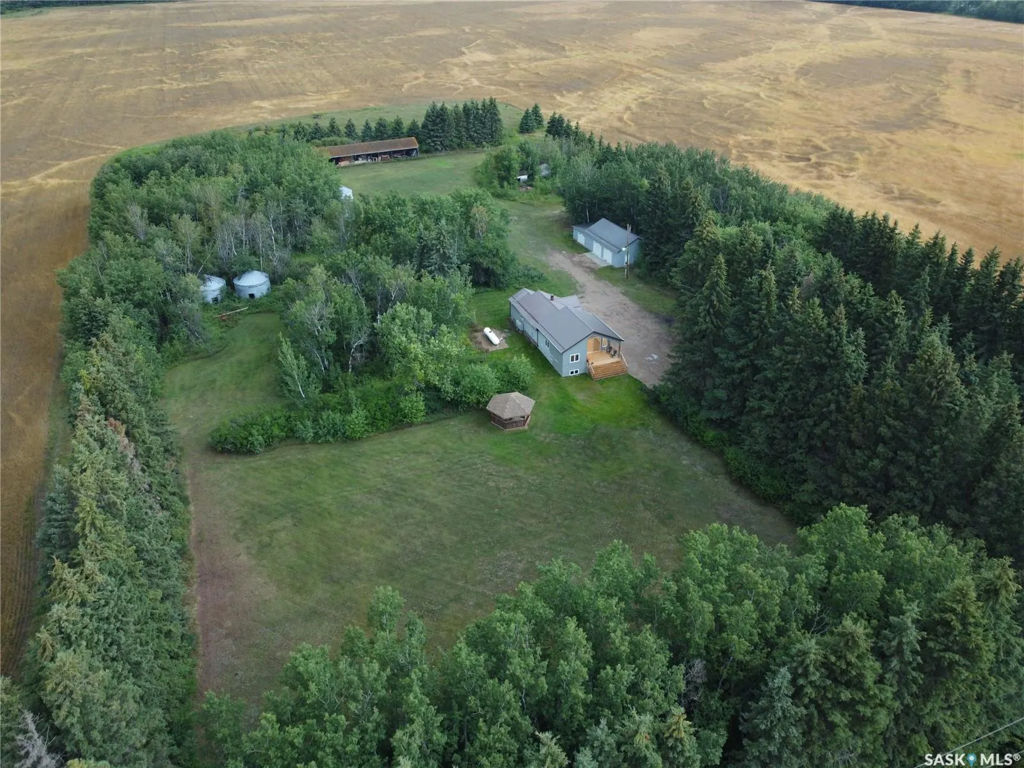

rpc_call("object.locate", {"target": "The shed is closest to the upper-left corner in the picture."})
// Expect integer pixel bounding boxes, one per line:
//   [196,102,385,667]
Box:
[320,136,421,164]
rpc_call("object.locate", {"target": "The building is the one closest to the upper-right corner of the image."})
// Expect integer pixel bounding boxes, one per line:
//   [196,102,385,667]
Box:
[571,217,640,267]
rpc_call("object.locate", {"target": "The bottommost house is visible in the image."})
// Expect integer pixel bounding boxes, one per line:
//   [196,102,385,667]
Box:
[509,287,630,380]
